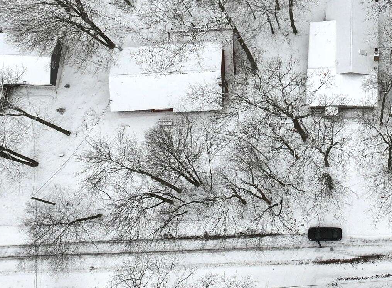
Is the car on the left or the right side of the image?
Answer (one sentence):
The car is on the right side of the image.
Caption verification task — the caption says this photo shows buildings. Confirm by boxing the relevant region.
[306,0,385,117]
[0,35,64,89]
[112,43,233,117]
